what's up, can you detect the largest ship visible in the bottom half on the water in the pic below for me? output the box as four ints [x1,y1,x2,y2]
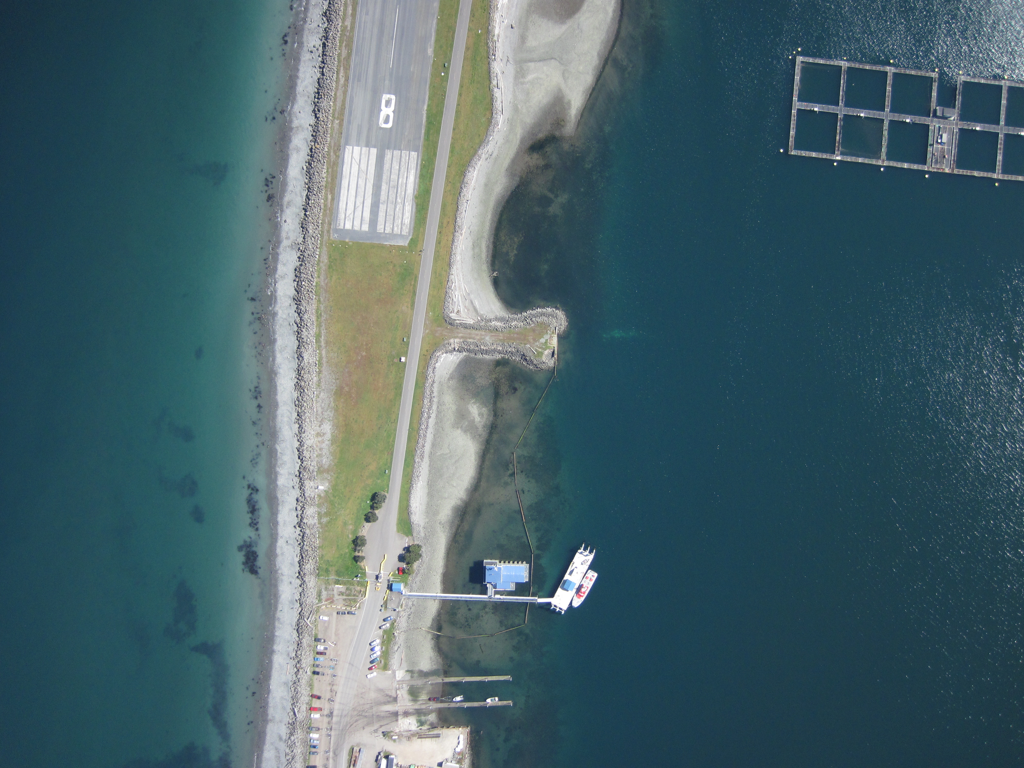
[552,549,592,610]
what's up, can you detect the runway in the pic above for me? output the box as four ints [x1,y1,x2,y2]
[331,0,440,246]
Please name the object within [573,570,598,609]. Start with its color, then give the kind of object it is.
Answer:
white boat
